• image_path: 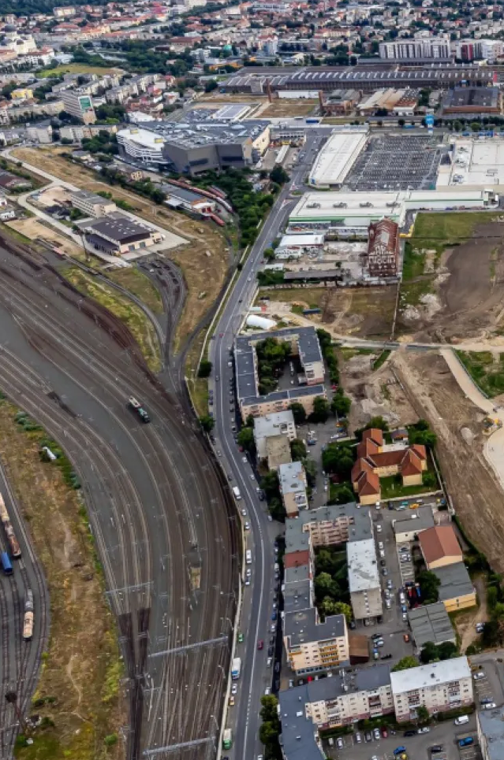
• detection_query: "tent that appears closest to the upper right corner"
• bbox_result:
[246,310,279,328]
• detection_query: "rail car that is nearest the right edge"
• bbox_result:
[131,398,146,415]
